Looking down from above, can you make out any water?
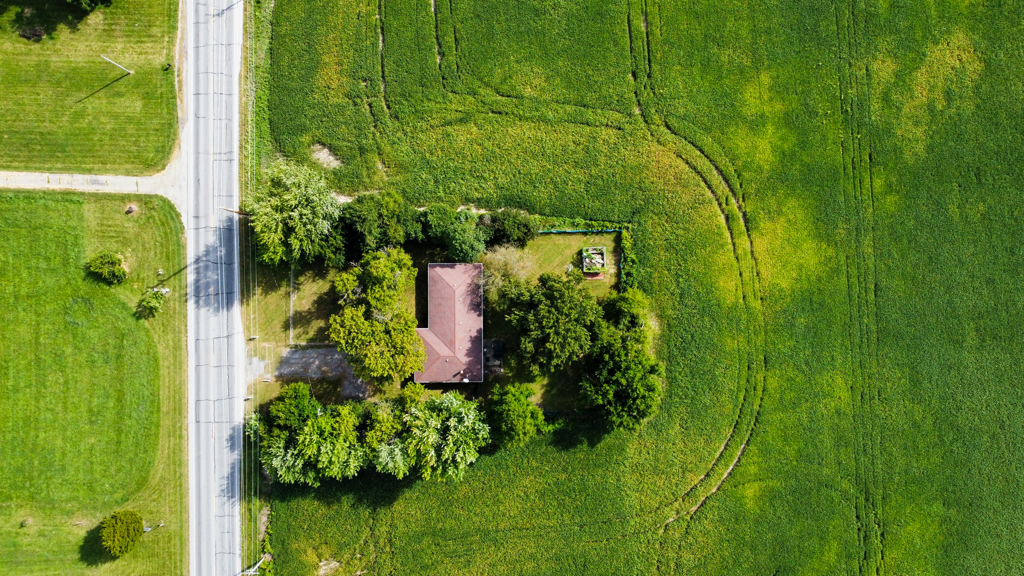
No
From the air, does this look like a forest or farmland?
farmland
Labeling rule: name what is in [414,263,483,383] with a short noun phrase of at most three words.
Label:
house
